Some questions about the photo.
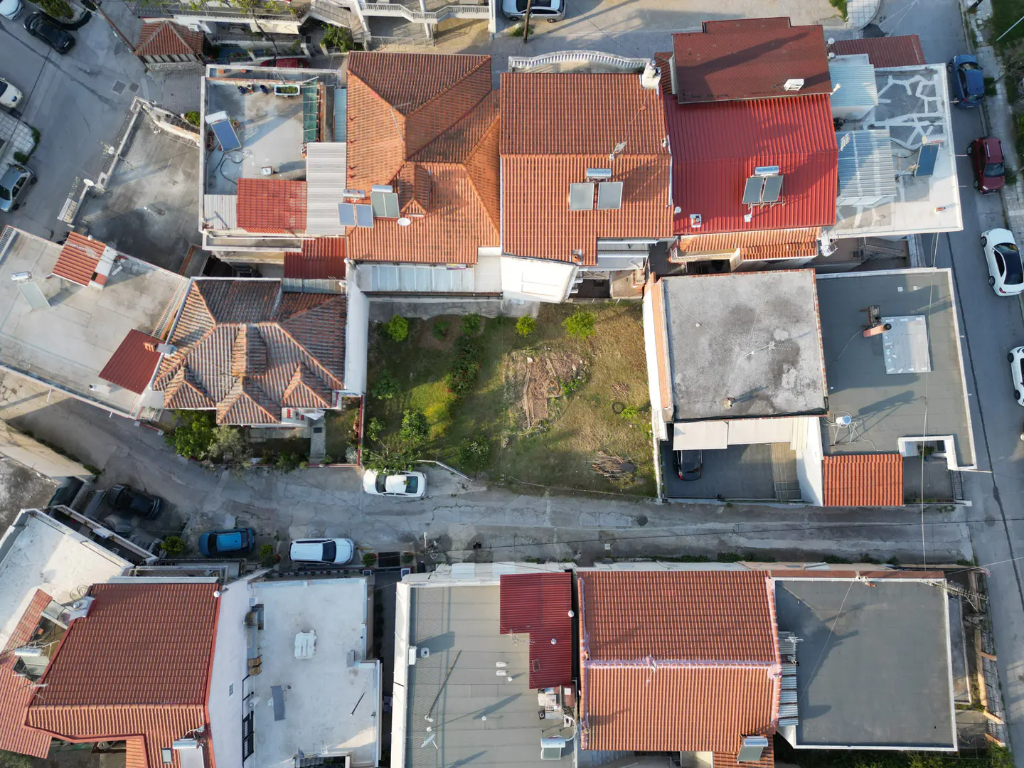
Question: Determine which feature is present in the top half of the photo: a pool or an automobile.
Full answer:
Visible in the top half of the photo is an automobile.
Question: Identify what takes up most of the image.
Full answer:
The largest share of the image is taken up by buildings.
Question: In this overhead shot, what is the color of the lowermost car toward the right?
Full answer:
The lowermost car toward the right is black.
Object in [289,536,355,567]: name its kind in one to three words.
car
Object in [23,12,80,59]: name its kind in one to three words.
car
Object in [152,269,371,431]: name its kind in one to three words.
house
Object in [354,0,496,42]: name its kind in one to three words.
house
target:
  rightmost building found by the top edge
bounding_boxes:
[809,34,970,269]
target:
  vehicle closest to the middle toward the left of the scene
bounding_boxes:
[361,468,428,499]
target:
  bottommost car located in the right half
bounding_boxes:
[673,450,700,485]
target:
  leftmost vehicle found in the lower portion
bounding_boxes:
[103,481,168,522]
